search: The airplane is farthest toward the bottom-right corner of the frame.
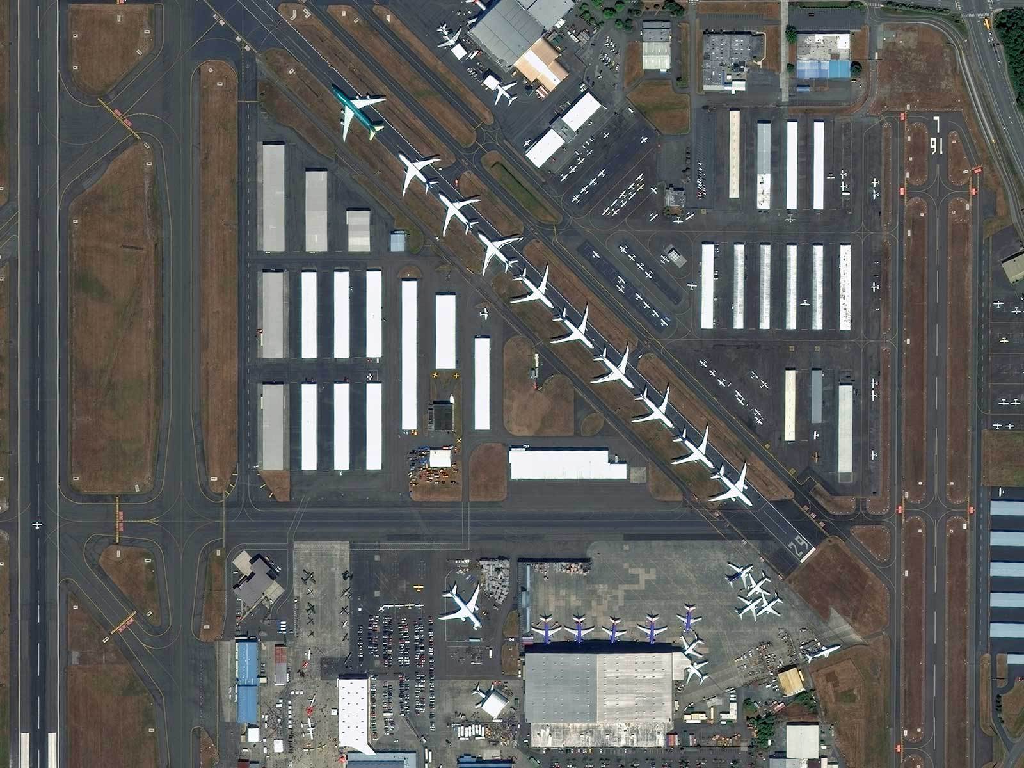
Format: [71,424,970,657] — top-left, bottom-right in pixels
[809,646,841,664]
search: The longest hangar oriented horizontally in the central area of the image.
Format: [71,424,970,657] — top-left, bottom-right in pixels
[509,451,627,479]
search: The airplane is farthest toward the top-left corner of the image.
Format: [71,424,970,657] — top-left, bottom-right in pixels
[332,86,386,141]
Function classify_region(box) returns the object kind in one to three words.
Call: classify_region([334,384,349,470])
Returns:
hangar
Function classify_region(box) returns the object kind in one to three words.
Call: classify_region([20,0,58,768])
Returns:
runway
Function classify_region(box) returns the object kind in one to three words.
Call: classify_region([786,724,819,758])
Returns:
building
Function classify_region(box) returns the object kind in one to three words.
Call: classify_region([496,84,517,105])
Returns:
airplane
